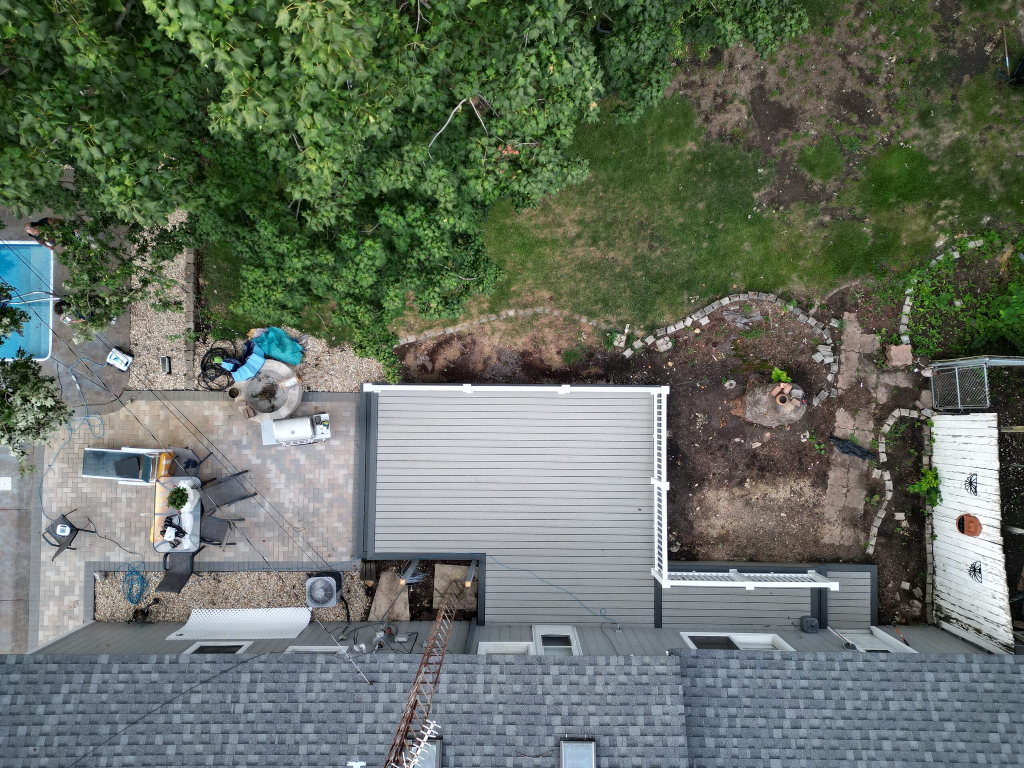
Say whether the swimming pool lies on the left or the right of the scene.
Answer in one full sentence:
The swimming pool sits on the left side.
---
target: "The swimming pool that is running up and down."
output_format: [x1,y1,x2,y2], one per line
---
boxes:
[0,239,54,361]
